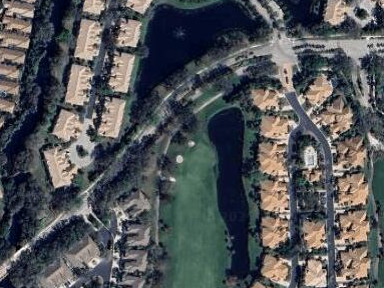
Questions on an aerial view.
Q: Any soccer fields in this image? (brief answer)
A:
No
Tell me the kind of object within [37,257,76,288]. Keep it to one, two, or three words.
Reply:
house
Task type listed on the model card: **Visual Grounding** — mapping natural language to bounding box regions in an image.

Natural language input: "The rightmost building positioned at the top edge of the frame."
[320,0,346,25]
